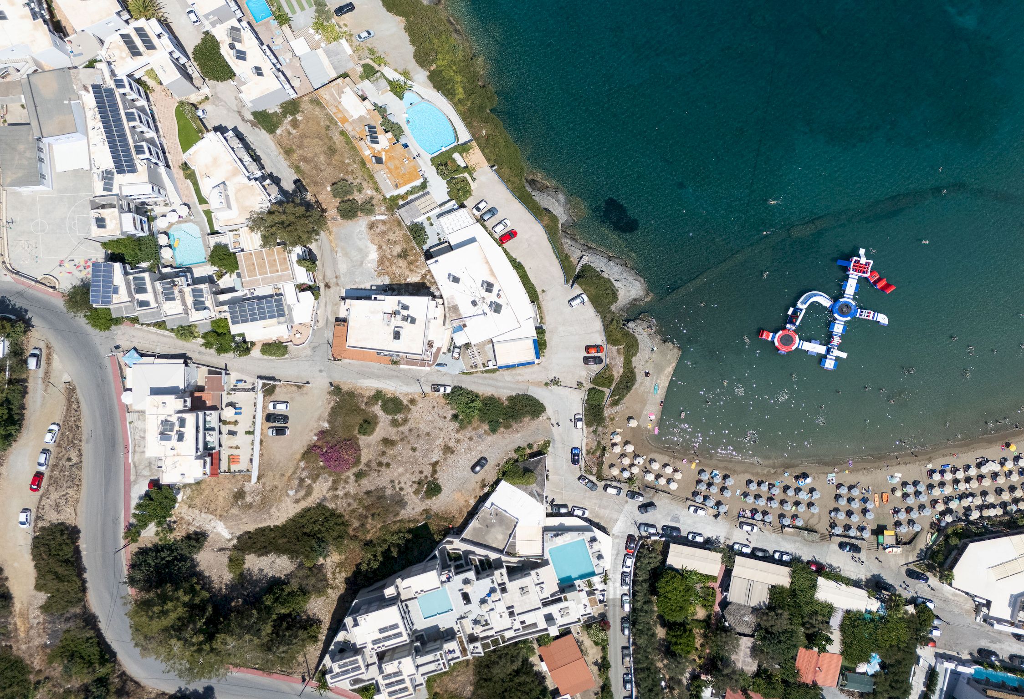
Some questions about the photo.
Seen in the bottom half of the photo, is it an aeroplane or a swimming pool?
swimming pool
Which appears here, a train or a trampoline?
trampoline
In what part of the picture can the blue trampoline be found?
right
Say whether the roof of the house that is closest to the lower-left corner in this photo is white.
Yes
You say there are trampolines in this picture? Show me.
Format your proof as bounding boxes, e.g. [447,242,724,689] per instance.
[832,297,857,322]
[774,328,799,353]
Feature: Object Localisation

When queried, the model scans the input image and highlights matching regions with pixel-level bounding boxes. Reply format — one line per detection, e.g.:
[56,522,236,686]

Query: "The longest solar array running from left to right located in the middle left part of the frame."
[229,297,285,324]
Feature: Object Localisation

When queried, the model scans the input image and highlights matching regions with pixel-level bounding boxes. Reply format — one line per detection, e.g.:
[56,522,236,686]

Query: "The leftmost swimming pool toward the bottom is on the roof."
[415,584,456,621]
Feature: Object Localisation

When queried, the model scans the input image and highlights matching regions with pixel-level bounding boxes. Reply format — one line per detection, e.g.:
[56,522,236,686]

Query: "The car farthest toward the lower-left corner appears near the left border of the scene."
[19,506,33,529]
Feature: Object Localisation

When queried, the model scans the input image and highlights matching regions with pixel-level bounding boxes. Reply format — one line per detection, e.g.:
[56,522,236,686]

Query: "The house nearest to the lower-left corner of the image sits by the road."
[146,375,231,483]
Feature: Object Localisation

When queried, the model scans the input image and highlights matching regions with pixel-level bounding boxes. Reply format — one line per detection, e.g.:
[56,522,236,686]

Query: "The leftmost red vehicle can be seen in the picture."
[30,471,45,492]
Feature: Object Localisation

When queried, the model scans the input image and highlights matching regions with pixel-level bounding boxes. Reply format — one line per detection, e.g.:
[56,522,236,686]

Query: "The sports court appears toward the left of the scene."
[7,169,106,287]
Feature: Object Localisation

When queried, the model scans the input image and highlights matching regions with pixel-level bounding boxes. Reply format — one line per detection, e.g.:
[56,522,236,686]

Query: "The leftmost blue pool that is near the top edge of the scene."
[246,0,275,25]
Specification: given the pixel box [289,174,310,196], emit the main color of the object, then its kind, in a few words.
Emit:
black truck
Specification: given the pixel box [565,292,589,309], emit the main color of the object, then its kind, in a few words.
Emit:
white vehicle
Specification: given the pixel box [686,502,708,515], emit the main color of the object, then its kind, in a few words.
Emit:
white vehicle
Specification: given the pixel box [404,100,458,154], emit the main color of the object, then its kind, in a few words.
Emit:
blue swimming pool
